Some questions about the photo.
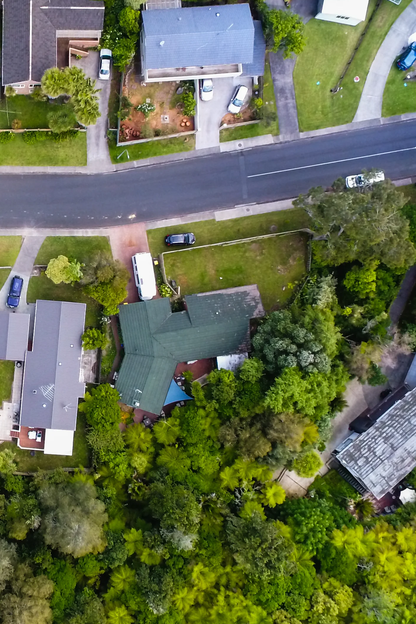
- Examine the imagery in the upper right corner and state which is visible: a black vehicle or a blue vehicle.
blue vehicle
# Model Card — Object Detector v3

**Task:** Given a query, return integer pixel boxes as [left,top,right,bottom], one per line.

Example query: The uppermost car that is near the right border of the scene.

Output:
[399,42,416,69]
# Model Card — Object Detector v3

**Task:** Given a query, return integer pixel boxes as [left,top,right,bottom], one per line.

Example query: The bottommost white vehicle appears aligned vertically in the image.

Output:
[135,252,155,299]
